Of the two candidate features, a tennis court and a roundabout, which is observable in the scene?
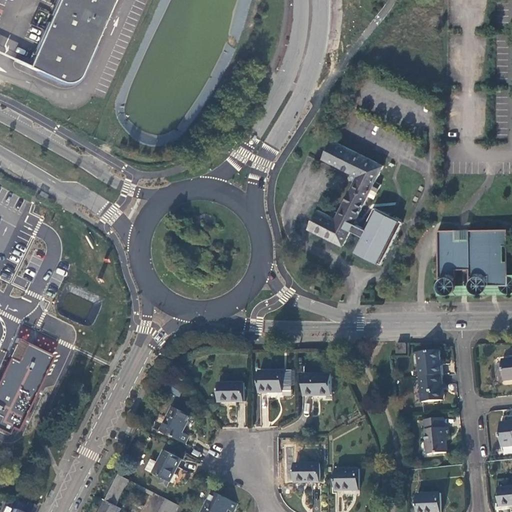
roundabout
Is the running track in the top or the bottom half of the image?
top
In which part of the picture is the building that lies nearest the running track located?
top left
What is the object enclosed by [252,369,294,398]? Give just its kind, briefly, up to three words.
house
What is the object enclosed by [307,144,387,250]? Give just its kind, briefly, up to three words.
building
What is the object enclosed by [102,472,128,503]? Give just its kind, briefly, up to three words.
house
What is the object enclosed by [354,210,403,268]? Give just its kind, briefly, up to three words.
building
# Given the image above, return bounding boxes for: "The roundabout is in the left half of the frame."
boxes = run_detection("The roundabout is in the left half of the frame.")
[130,178,268,320]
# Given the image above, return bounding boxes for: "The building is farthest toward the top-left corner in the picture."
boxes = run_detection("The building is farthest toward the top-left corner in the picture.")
[32,0,122,86]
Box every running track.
[114,0,252,147]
